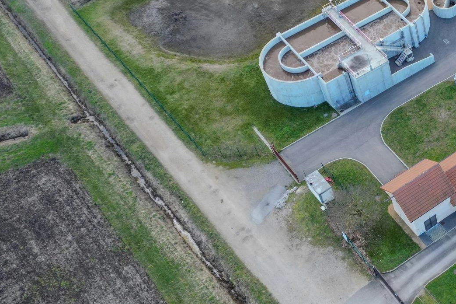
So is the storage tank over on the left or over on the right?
right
